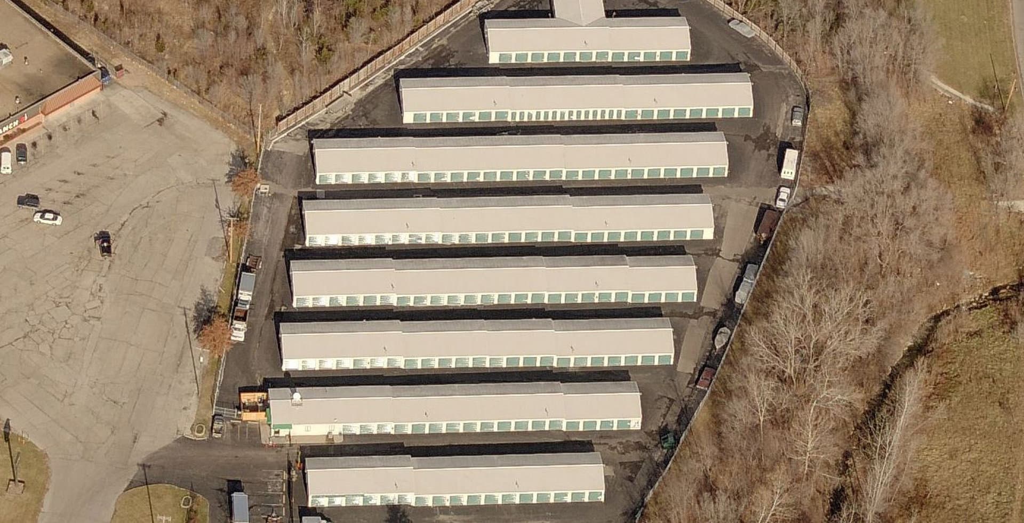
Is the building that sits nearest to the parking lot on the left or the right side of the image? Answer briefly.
left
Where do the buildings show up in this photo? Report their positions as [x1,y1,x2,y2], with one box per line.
[313,131,729,183]
[264,381,643,436]
[303,193,715,246]
[0,0,108,157]
[290,255,698,307]
[485,0,691,63]
[399,72,755,122]
[305,452,606,507]
[279,318,675,371]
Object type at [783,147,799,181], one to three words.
camper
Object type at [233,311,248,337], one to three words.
vehicle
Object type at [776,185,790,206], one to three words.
car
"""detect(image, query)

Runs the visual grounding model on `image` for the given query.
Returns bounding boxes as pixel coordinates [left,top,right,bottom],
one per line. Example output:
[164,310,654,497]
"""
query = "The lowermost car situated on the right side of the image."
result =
[661,430,676,451]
